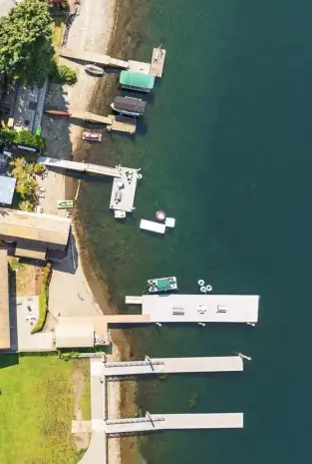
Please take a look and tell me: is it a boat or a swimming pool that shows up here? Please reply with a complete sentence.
This aerial view contains a boat.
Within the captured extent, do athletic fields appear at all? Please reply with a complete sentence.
No, the picture doesn't show any athletic field.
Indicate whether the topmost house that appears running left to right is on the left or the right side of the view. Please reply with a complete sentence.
You can find the topmost house that appears running left to right on the left side of the picture.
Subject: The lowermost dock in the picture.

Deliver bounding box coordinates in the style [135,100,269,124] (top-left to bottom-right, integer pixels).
[104,412,243,432]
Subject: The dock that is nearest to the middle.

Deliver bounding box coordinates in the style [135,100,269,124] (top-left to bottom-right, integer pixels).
[110,165,141,212]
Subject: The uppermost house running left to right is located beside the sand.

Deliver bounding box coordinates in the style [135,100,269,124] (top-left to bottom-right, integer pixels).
[0,209,72,247]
